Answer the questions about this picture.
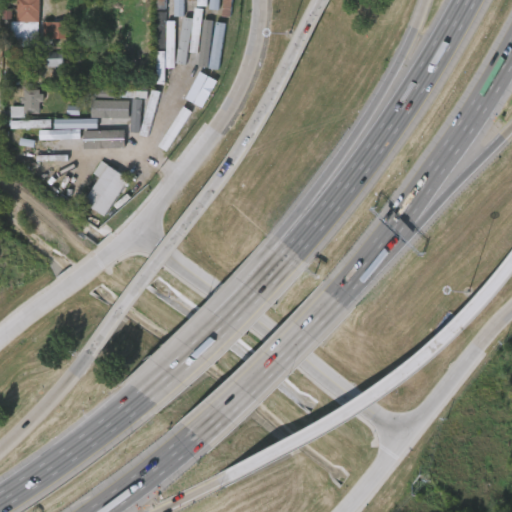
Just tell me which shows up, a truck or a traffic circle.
truck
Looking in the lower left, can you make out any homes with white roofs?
No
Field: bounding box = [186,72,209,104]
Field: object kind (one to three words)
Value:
house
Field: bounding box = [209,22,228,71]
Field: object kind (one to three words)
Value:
house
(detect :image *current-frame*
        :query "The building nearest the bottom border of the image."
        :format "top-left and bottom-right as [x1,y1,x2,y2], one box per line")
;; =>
[90,172,120,216]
